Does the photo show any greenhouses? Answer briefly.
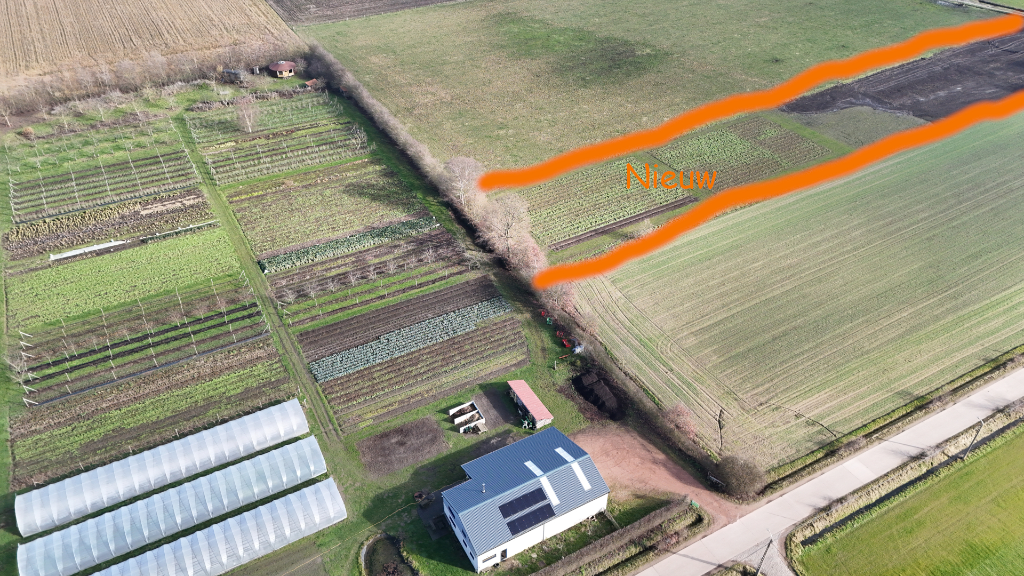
Yes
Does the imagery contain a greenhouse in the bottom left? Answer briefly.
Yes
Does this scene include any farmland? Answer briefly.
Yes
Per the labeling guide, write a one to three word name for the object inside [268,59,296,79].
shed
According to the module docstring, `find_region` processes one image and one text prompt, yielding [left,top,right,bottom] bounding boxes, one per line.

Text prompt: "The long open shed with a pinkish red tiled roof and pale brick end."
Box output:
[507,380,555,431]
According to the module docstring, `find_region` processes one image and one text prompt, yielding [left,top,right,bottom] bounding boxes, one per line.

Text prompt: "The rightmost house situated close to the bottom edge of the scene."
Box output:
[440,428,612,572]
